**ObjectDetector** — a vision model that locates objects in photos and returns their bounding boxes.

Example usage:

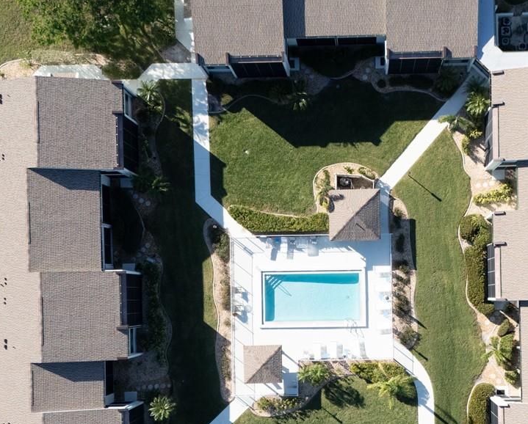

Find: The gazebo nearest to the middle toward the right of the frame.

[328,189,381,242]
